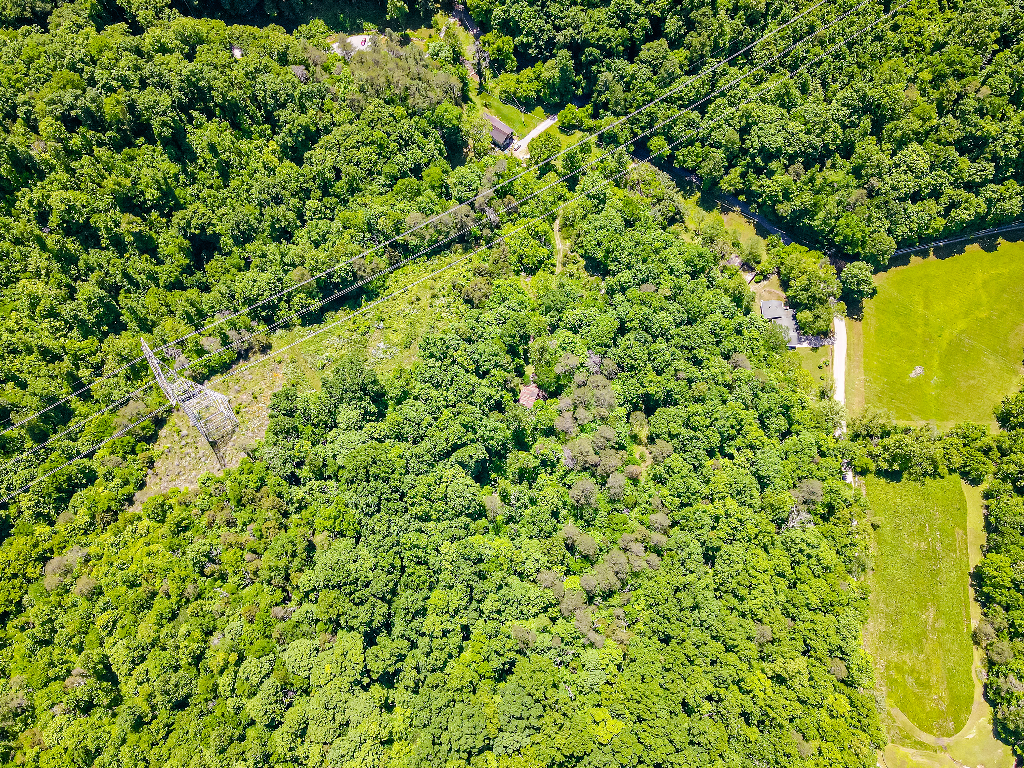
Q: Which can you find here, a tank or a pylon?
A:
pylon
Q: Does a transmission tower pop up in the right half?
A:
No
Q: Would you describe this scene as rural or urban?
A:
rural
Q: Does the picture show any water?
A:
No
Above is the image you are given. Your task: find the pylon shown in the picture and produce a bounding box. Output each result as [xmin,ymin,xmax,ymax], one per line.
[143,349,237,439]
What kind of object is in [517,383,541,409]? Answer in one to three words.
shed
